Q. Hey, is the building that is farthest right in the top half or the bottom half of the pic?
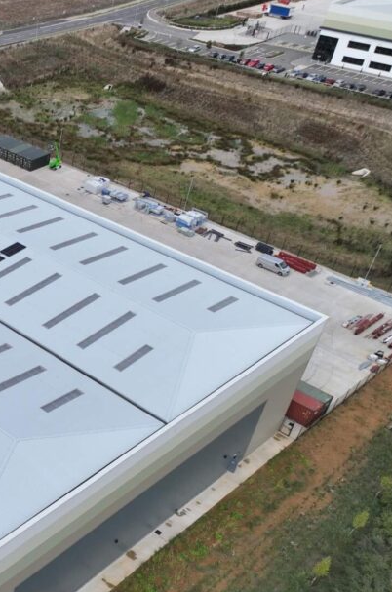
top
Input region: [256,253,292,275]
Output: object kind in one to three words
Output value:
vehicle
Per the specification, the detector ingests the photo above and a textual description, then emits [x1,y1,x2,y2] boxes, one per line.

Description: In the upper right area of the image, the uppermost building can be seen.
[310,0,392,78]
